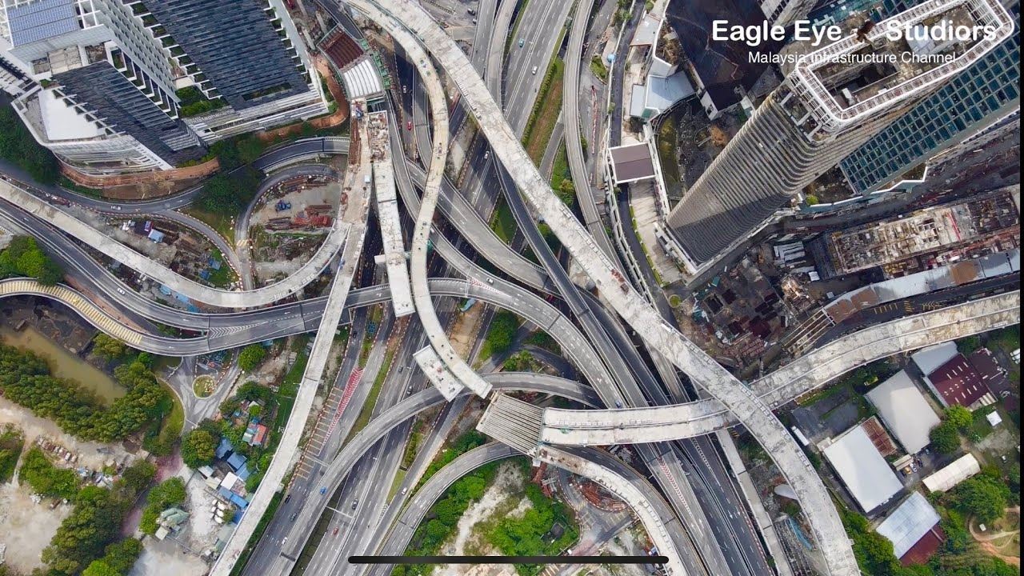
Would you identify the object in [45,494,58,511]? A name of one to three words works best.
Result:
vehicle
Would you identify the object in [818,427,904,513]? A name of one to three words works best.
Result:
building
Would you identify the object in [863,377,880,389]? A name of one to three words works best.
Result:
vehicle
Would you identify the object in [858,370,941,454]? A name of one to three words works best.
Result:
building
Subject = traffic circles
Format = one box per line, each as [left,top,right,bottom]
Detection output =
[183,365,225,407]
